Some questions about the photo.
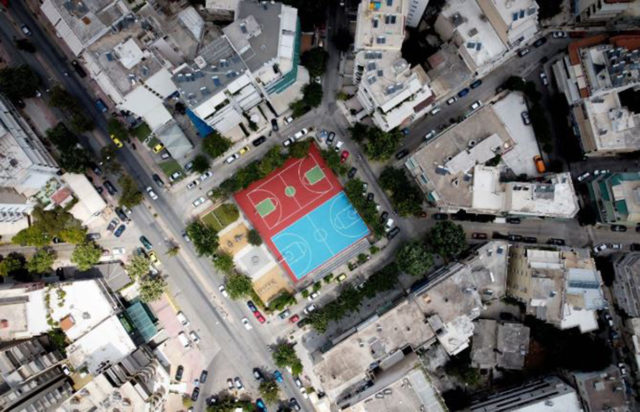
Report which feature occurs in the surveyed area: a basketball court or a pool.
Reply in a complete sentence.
The image shows a basketball court.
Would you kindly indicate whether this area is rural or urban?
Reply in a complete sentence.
It looks urban.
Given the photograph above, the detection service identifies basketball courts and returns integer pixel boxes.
[234,144,375,286]
[272,189,371,279]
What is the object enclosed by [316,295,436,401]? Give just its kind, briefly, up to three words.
building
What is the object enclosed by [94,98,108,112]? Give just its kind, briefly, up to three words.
vehicle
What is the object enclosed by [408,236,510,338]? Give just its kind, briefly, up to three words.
building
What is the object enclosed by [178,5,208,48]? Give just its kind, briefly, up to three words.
shed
